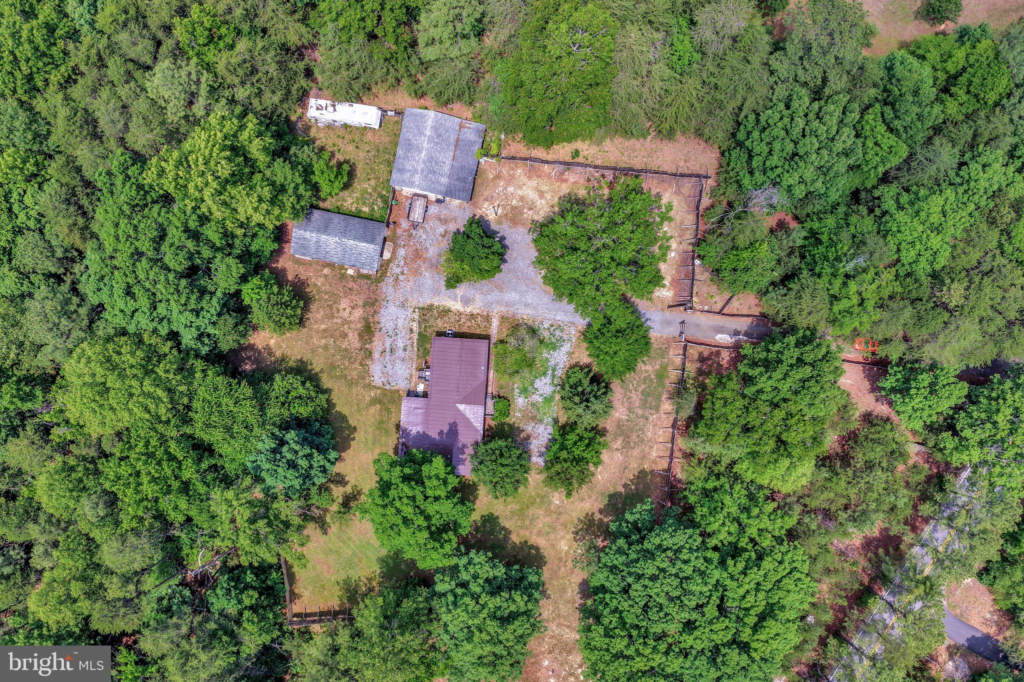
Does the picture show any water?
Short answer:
No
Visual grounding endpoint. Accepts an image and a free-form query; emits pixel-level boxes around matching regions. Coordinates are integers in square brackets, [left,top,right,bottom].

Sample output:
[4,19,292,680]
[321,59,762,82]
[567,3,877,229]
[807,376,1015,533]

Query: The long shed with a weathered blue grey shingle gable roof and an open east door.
[291,208,392,270]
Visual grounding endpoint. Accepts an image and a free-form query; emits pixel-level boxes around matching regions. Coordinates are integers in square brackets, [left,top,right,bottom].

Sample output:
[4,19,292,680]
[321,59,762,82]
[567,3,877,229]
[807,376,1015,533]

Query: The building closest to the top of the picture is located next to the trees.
[390,109,486,203]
